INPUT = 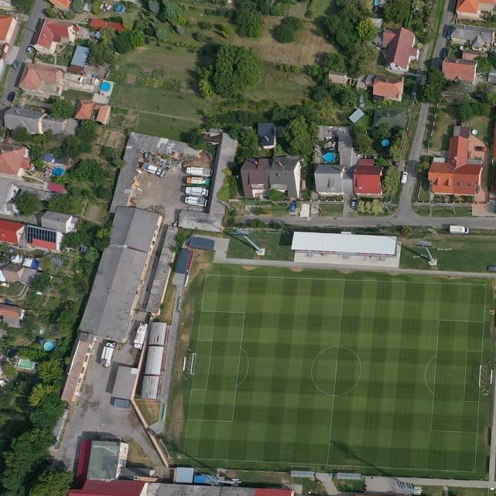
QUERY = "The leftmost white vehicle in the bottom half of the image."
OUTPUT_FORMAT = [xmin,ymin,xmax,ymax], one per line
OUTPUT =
[101,342,115,369]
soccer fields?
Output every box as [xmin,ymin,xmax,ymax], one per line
[173,264,496,479]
